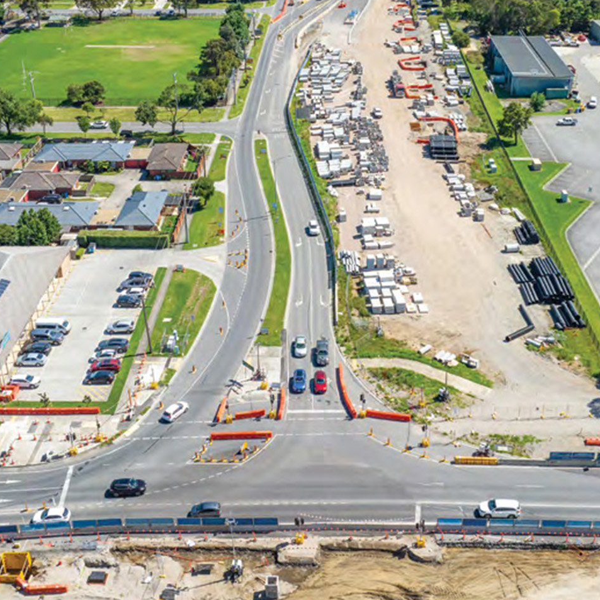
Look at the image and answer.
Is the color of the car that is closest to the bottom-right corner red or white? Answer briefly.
white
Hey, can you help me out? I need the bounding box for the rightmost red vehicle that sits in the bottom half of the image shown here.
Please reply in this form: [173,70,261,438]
[312,370,328,393]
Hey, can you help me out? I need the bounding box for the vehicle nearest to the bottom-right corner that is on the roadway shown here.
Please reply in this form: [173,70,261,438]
[477,497,522,519]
